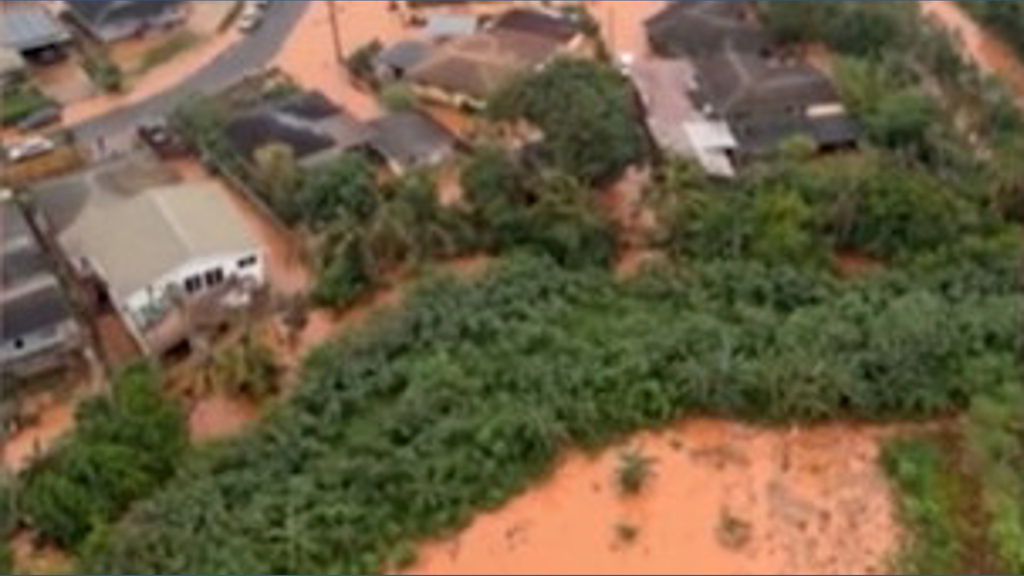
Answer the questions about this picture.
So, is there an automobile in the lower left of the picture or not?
No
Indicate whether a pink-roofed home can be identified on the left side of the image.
No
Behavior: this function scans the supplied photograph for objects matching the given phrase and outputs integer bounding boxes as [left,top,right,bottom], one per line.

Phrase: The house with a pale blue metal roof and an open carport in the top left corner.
[0,5,82,70]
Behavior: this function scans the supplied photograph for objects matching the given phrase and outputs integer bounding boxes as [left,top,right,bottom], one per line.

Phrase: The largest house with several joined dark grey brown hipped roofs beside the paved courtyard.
[644,0,860,168]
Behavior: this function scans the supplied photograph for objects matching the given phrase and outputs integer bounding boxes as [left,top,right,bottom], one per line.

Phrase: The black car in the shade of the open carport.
[29,45,56,66]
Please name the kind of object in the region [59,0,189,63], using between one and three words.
house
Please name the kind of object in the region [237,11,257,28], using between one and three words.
car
